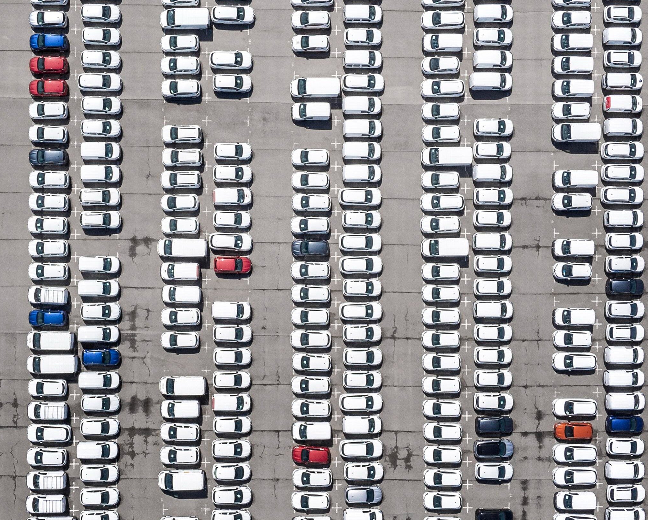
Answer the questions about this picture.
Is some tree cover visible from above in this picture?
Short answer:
No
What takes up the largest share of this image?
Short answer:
paved ground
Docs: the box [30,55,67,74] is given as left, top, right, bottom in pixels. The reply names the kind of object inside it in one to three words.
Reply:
car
